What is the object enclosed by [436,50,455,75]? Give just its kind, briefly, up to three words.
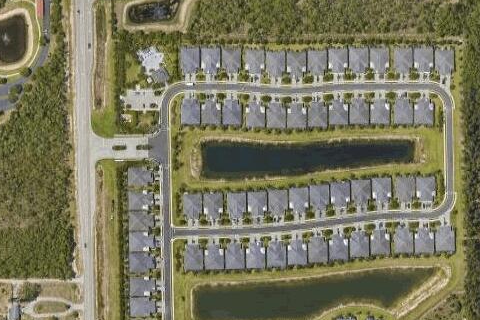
house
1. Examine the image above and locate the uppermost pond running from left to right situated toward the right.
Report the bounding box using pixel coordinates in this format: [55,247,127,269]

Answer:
[201,139,416,179]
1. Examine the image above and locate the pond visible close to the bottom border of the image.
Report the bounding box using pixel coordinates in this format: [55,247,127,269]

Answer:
[193,267,439,320]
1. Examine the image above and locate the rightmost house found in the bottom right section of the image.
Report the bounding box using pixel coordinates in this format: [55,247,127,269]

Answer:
[436,227,455,253]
